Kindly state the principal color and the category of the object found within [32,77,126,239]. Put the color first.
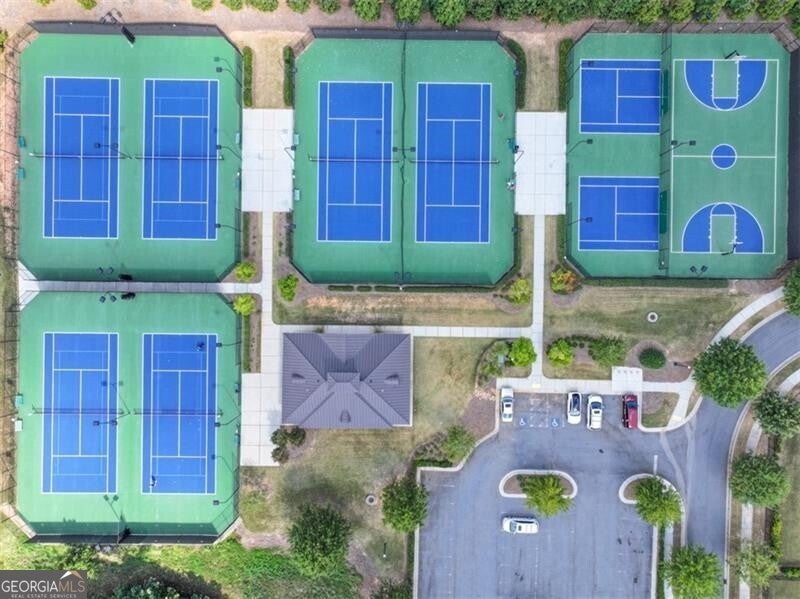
blue tennis court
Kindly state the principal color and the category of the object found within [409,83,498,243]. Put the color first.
blue tennis court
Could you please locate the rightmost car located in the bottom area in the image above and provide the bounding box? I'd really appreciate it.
[621,393,639,428]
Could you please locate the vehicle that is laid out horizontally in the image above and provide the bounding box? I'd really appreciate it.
[502,515,538,533]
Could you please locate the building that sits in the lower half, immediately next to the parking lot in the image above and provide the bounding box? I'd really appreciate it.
[283,330,412,428]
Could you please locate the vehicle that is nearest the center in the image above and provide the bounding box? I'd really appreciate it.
[500,386,515,420]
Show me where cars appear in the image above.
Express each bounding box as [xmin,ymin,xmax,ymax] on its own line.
[587,394,604,429]
[500,386,515,420]
[621,393,639,428]
[565,391,581,423]
[502,515,538,533]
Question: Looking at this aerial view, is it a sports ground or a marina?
sports ground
